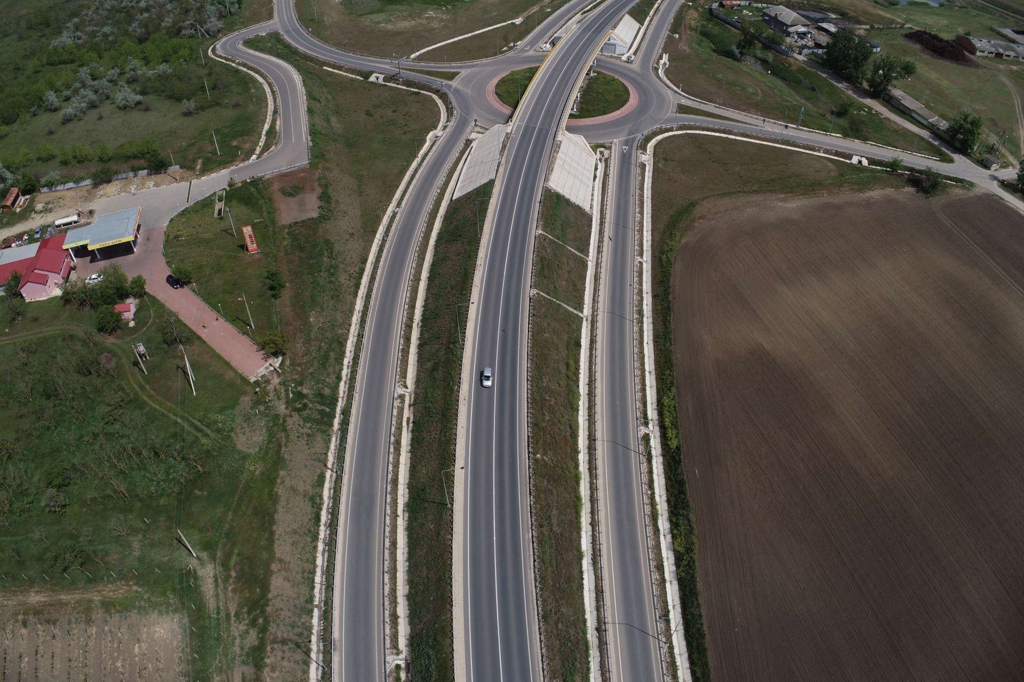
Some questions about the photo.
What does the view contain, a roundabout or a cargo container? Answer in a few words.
roundabout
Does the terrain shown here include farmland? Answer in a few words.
Yes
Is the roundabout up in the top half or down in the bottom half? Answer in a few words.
top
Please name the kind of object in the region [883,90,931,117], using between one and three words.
shed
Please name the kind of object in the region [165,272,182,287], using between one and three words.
car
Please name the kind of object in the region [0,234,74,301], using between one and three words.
building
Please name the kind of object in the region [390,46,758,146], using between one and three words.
roundabout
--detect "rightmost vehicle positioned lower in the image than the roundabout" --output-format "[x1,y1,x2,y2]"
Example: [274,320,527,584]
[480,364,492,386]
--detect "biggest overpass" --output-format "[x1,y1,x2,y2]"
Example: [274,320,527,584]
[452,11,640,214]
